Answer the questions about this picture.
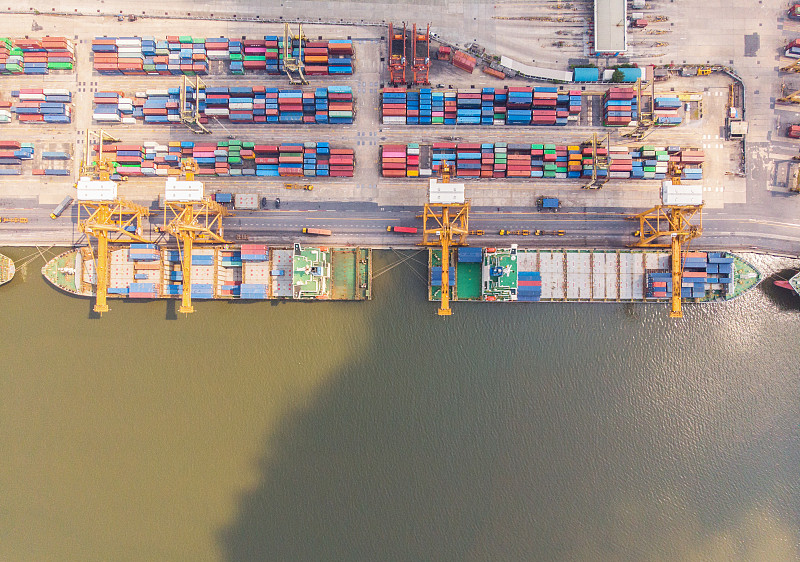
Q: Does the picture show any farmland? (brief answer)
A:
No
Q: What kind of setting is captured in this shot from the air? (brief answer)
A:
port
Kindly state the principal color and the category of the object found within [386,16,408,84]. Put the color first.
red crane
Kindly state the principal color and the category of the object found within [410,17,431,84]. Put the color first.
red crane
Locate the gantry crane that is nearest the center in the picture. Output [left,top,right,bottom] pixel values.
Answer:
[414,160,477,318]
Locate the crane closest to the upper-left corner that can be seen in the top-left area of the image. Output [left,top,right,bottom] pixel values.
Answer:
[81,123,125,181]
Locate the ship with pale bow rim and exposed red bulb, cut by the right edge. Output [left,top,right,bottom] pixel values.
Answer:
[774,268,800,295]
